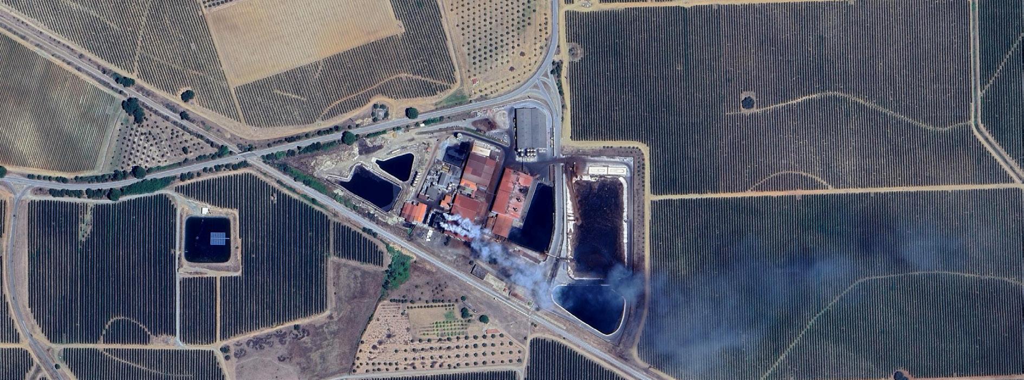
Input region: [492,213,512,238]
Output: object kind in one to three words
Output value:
building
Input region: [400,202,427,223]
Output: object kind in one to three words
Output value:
shed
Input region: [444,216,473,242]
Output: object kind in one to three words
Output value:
building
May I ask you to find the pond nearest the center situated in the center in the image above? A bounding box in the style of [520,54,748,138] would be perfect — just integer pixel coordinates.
[507,181,555,254]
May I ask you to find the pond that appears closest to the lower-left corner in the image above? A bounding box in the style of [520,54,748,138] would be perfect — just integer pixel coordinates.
[180,212,236,269]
